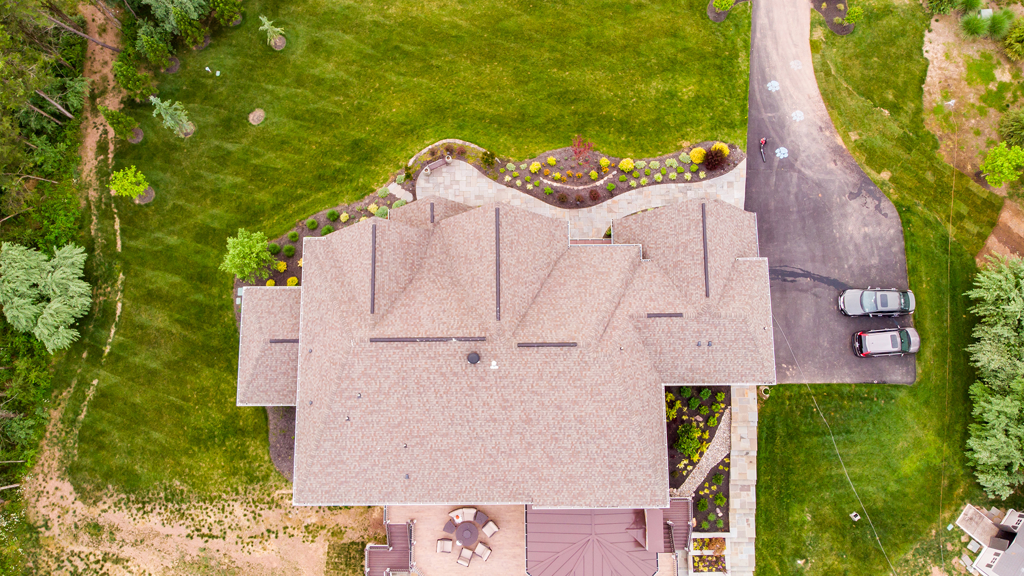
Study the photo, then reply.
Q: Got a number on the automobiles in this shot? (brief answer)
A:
two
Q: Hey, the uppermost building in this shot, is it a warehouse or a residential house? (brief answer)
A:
residential house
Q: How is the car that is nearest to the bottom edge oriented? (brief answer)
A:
horizontally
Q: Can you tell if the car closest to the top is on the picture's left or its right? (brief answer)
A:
right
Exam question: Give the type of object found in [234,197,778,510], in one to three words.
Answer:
house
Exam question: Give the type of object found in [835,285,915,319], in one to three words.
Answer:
car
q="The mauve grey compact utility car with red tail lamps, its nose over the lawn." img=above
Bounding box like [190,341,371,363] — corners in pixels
[848,325,919,359]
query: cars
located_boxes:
[835,285,915,319]
[848,325,919,359]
